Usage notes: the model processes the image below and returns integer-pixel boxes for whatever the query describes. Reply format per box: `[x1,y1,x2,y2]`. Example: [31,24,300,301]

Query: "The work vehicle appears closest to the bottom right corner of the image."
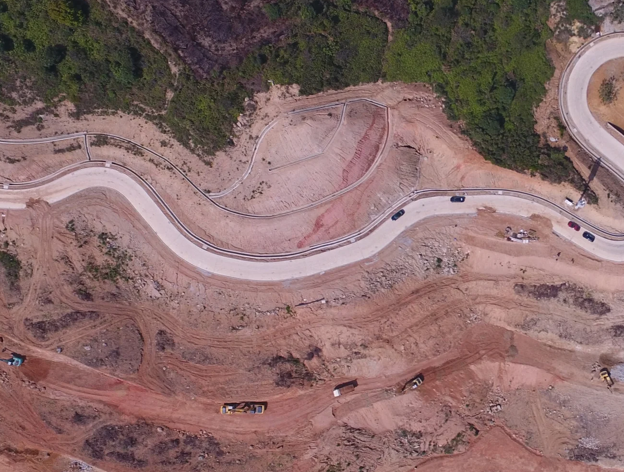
[598,368,615,396]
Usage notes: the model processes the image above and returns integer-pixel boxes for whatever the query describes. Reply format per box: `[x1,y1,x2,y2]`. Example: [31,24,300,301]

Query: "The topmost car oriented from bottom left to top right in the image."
[390,208,405,221]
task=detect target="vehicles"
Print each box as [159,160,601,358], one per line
[0,356,23,368]
[390,208,405,221]
[399,376,425,395]
[451,197,466,203]
[241,405,266,416]
[598,368,615,396]
[567,220,582,232]
[582,232,597,242]
[330,384,356,398]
